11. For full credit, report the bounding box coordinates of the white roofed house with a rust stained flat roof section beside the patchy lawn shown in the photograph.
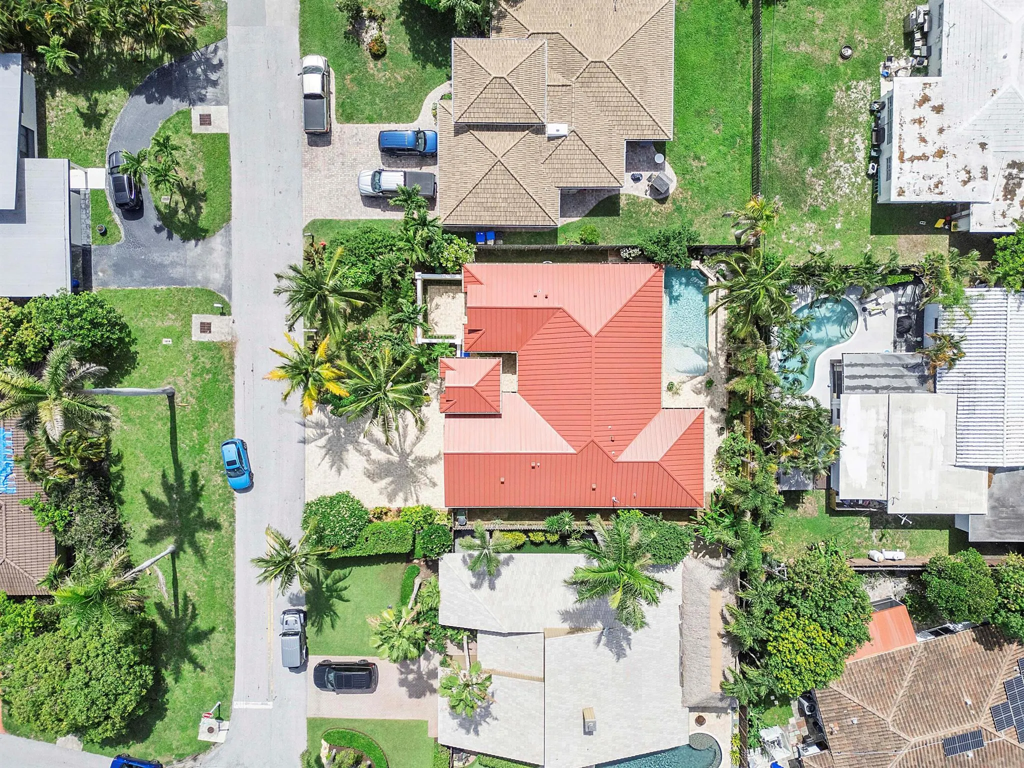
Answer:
[879,0,1024,234]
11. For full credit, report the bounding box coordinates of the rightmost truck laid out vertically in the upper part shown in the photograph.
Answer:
[298,55,332,136]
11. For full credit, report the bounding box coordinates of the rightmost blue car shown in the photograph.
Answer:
[378,128,436,161]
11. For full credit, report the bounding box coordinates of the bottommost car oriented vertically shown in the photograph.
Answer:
[277,606,310,674]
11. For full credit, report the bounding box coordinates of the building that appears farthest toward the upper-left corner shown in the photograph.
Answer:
[0,53,106,297]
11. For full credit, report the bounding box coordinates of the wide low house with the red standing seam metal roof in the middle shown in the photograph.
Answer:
[438,261,706,510]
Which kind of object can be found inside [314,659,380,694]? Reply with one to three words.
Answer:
car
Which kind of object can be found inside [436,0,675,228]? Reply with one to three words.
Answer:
house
